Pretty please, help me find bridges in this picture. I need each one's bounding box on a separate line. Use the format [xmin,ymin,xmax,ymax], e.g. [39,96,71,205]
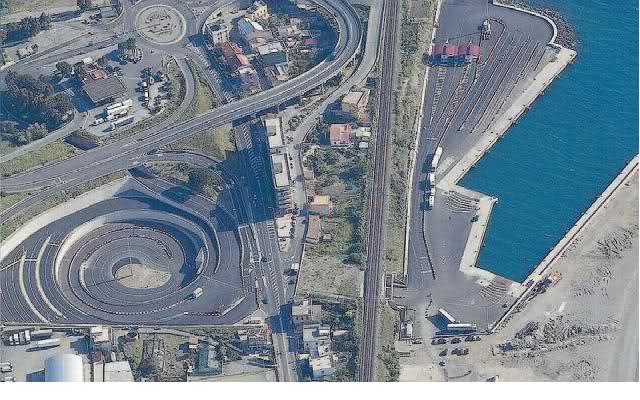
[0,0,362,193]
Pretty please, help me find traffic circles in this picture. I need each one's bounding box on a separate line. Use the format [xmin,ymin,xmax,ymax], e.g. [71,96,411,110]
[116,0,205,58]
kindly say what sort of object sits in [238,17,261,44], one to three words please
building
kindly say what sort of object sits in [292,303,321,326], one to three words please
house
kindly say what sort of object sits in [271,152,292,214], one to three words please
building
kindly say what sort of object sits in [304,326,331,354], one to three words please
house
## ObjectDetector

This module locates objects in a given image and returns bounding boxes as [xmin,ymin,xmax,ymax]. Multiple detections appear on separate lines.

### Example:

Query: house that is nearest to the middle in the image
[313,195,331,214]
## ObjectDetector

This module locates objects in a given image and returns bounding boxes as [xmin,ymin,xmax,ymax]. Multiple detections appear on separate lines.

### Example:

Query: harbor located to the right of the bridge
[404,0,640,334]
